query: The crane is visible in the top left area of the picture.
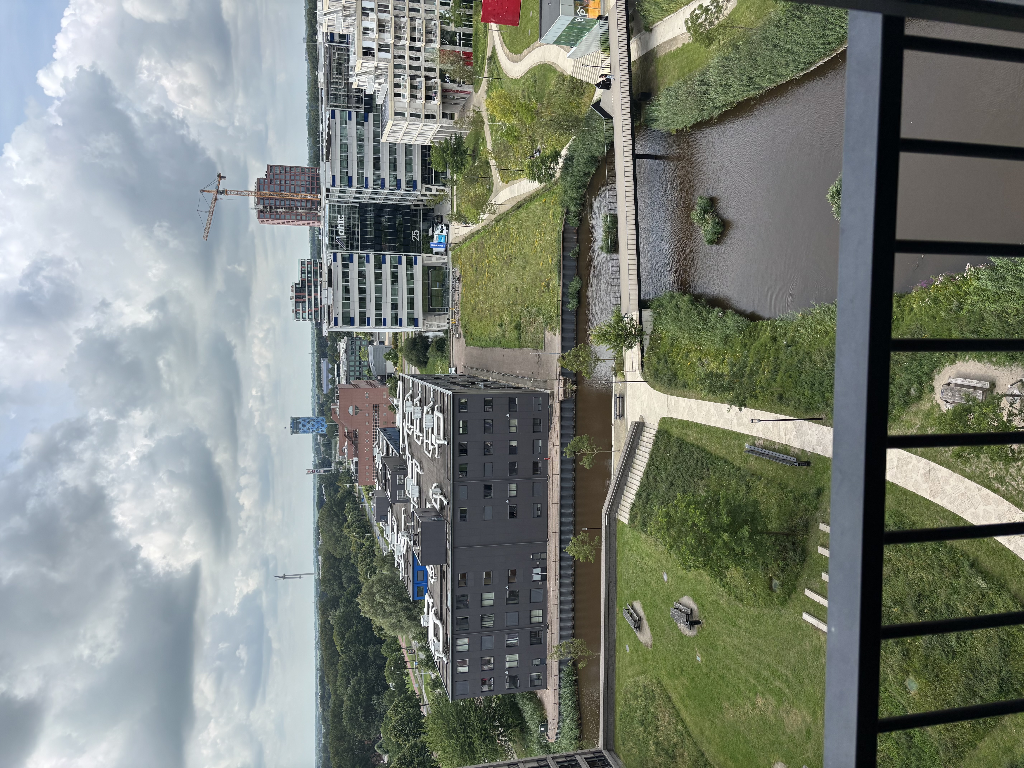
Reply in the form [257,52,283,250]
[198,173,321,241]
